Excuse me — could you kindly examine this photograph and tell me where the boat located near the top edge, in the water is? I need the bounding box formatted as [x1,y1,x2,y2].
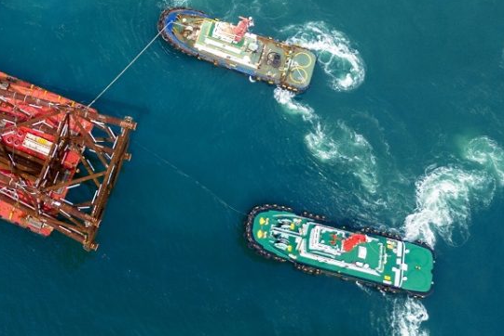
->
[159,4,312,93]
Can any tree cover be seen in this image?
No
